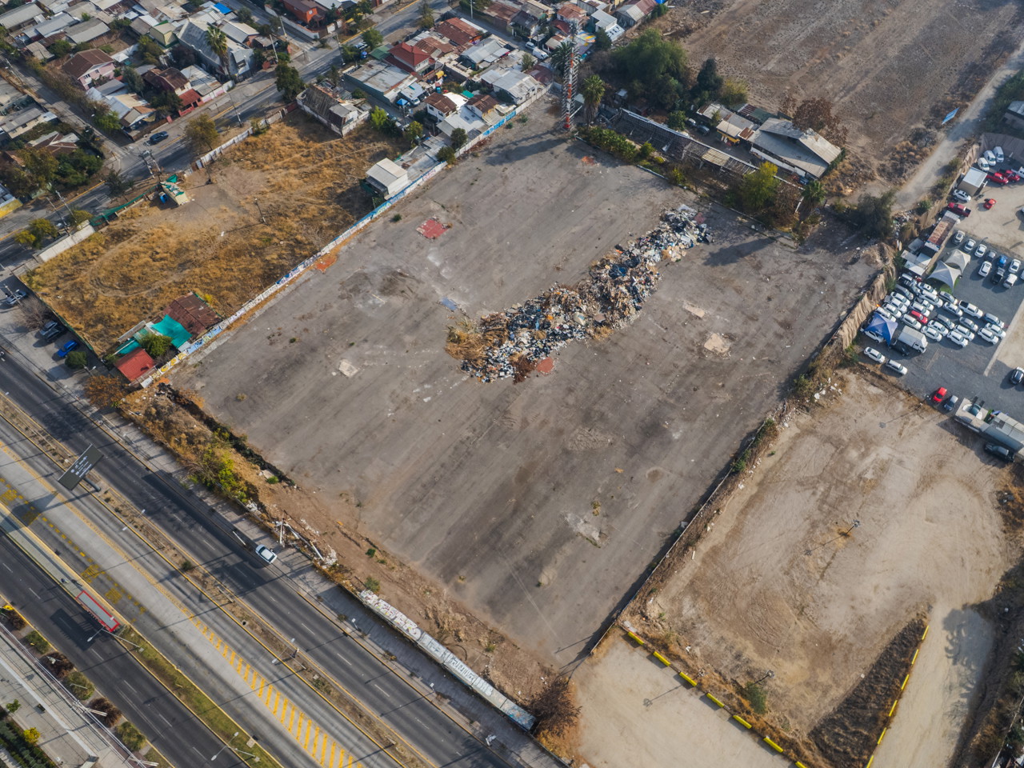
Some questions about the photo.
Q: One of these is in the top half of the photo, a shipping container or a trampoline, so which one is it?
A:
shipping container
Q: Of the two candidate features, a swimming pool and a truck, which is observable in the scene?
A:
truck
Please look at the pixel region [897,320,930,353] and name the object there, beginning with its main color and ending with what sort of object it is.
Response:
white truck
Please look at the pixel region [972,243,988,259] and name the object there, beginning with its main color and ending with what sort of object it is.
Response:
white car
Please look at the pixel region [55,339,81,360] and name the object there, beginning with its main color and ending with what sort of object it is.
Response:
blue car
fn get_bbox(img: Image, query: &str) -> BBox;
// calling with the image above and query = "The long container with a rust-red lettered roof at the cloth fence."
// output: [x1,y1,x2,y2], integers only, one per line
[920,215,959,256]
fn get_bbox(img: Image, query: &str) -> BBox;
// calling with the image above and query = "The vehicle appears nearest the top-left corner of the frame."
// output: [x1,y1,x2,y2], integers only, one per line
[149,131,168,144]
